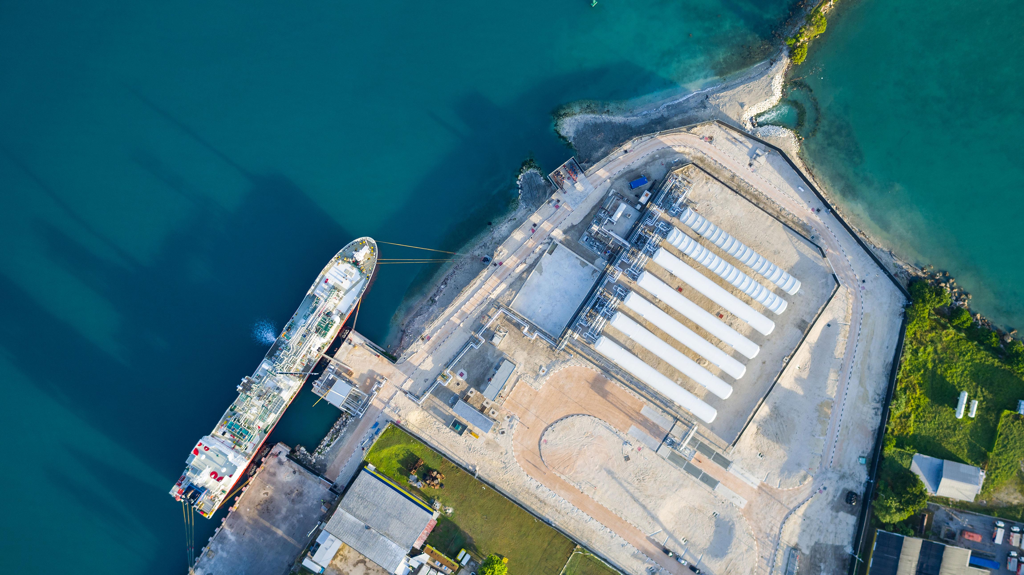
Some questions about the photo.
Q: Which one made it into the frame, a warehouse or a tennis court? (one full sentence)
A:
This aerial view contains a warehouse.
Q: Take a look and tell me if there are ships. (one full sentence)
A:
Yes, there's a ship here.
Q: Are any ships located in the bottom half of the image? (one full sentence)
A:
Yes, a ship appears in the bottom half of the image.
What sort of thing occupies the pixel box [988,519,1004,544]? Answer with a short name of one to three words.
vehicle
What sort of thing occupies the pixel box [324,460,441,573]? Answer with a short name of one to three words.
warehouse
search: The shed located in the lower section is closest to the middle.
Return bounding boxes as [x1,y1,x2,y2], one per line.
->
[483,359,516,401]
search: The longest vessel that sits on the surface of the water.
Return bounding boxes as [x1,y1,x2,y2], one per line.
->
[169,236,378,519]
